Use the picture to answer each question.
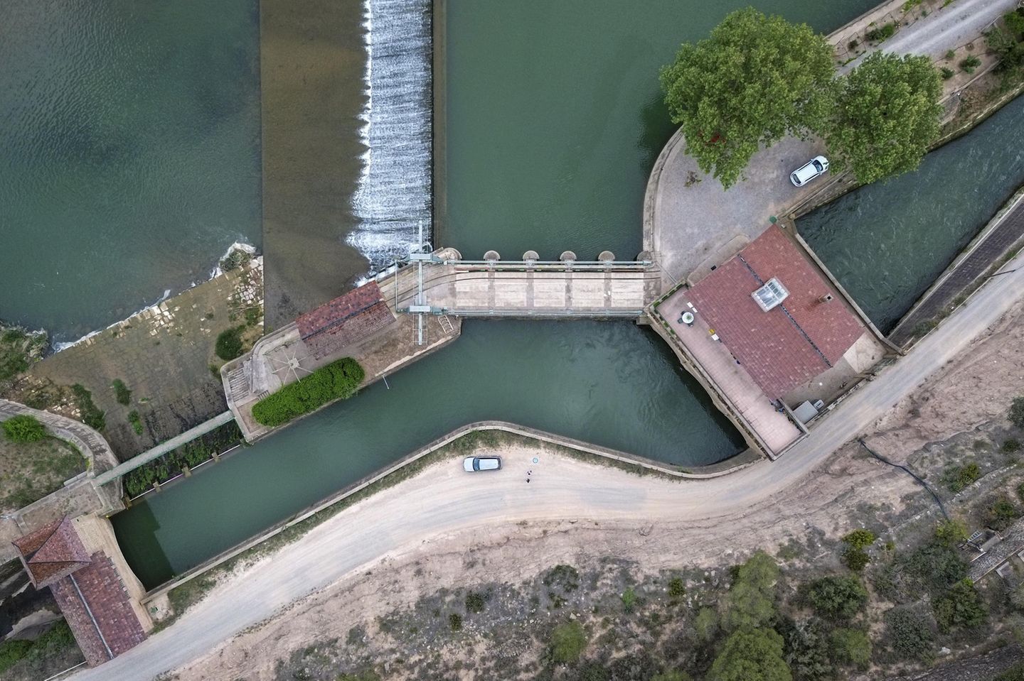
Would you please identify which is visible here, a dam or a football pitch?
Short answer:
dam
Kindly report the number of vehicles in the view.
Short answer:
2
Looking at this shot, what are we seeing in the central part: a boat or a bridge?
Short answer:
bridge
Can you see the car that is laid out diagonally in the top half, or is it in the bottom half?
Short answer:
top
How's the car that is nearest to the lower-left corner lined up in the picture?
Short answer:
from side to side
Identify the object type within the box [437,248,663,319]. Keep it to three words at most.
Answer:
bridge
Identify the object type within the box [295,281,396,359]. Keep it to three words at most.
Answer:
shed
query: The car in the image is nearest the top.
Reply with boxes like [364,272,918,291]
[790,155,830,187]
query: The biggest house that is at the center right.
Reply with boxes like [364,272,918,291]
[684,224,866,400]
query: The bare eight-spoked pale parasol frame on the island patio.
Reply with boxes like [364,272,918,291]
[267,341,313,384]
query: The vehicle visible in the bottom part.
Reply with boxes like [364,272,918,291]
[462,455,503,475]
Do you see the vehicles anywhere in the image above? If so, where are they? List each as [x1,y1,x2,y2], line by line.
[790,155,830,187]
[462,455,503,475]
